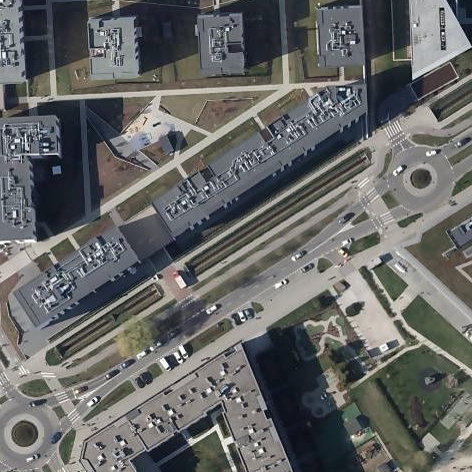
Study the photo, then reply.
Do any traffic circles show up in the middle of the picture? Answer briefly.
No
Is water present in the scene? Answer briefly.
No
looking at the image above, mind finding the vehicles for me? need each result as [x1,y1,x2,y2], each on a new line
[427,149,437,155]
[150,342,160,350]
[340,248,350,258]
[276,279,288,288]
[138,350,148,358]
[206,305,218,314]
[293,251,305,260]
[122,360,134,369]
[52,433,61,443]
[300,262,312,272]
[76,386,87,393]
[458,136,470,145]
[174,271,186,286]
[341,238,351,246]
[243,307,253,319]
[232,315,239,325]
[237,311,245,322]
[135,377,144,389]
[394,164,405,175]
[88,397,98,406]
[107,370,119,379]
[342,213,353,223]
[141,373,151,385]
[160,358,170,371]
[28,454,38,461]
[178,344,188,357]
